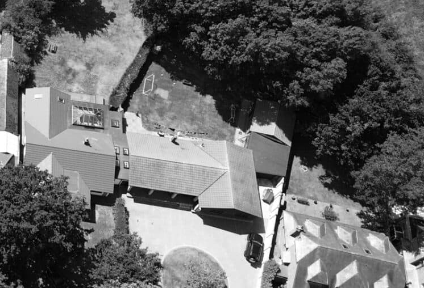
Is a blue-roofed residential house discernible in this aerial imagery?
No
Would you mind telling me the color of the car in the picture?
black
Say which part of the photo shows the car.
bottom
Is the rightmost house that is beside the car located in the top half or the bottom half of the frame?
bottom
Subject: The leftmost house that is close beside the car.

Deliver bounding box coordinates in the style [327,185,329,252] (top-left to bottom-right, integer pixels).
[124,131,262,221]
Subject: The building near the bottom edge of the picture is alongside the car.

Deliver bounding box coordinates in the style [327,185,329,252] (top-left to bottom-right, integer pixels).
[274,210,406,288]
